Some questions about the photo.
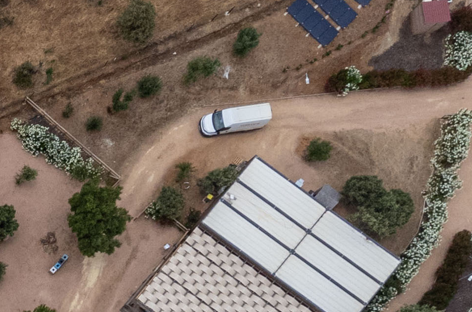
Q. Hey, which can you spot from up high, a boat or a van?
van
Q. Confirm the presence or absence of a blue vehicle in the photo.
No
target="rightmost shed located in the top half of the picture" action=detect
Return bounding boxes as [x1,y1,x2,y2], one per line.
[408,0,450,39]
